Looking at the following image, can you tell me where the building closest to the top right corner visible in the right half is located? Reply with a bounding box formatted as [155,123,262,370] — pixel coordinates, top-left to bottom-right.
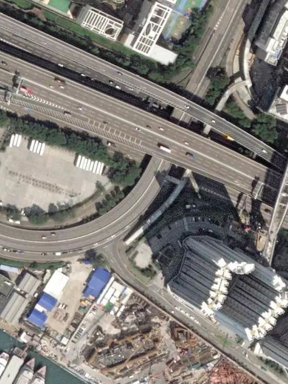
[250,0,288,64]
